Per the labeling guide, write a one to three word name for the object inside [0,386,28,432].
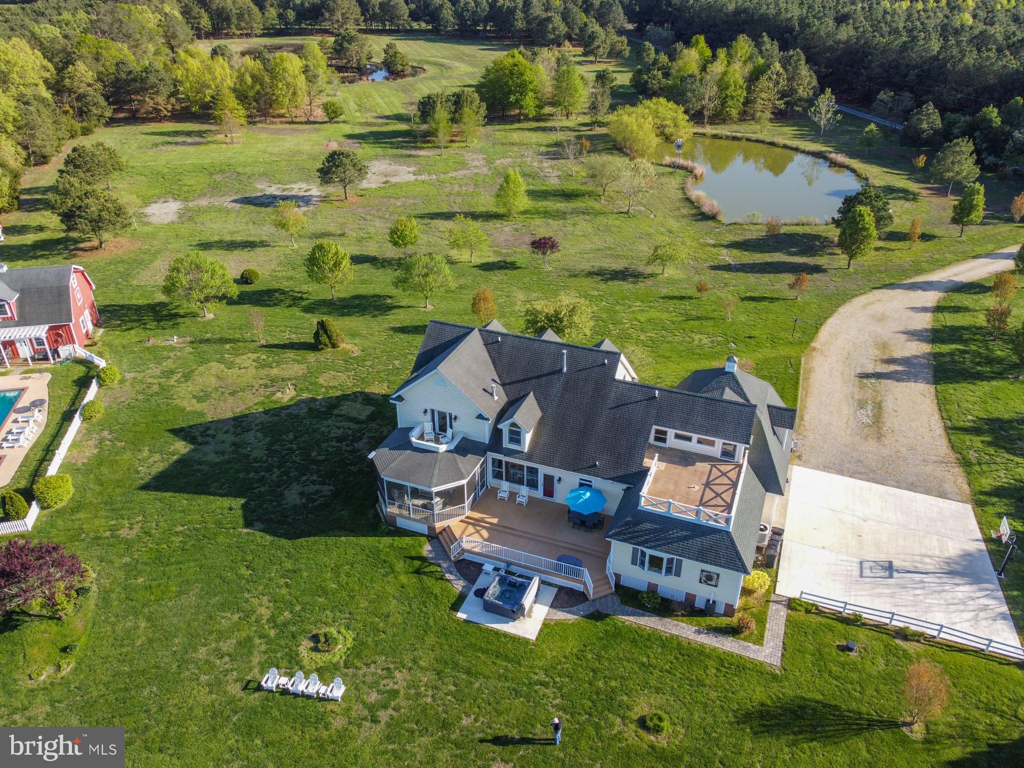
swimming pool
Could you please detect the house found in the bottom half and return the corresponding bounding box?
[358,319,798,616]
